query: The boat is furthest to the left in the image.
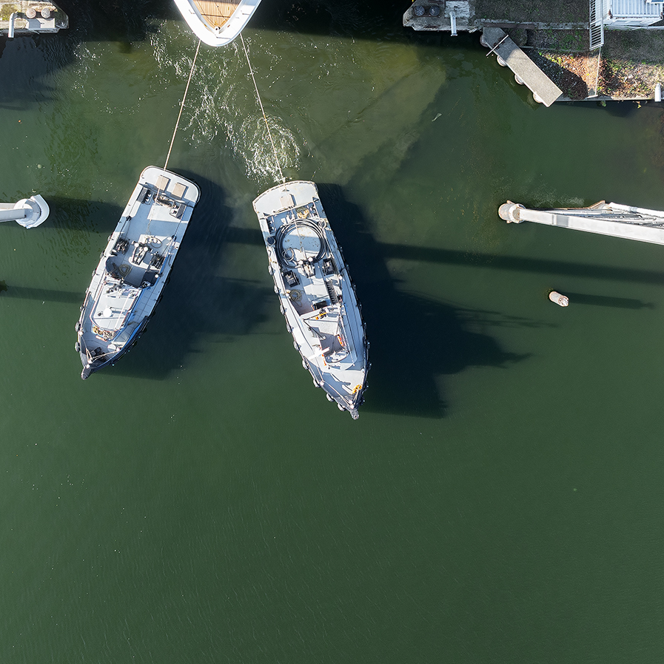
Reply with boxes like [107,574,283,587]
[74,164,203,381]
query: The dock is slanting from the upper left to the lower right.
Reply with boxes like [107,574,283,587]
[477,29,562,107]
